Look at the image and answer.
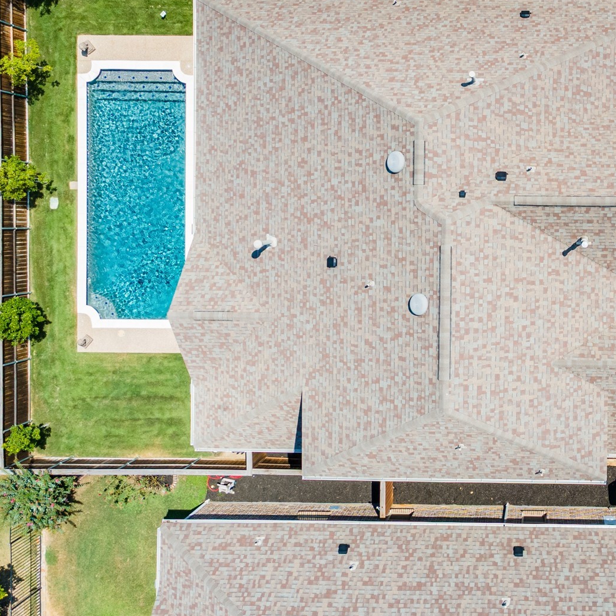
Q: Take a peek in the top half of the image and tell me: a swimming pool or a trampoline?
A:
swimming pool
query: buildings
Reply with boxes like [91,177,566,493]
[148,496,616,616]
[166,0,616,487]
